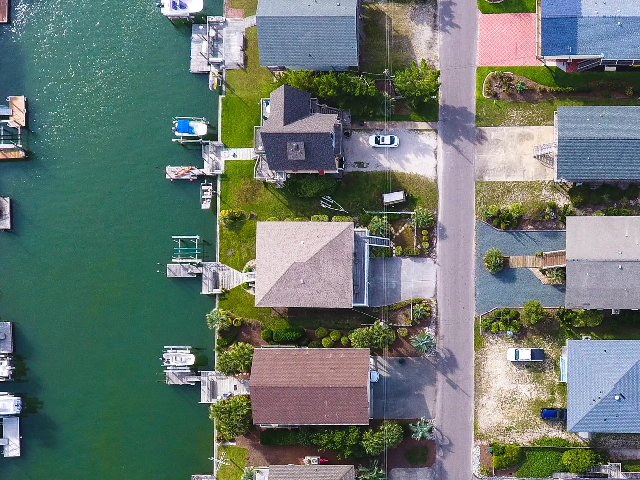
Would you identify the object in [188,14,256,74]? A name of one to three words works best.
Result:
pier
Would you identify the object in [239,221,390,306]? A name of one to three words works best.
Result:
house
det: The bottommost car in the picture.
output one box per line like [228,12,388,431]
[541,407,567,421]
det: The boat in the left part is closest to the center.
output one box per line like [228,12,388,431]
[200,180,213,208]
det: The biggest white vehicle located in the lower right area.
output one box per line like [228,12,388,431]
[506,347,544,363]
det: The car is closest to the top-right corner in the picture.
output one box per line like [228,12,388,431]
[368,135,400,148]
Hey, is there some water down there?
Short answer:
Yes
